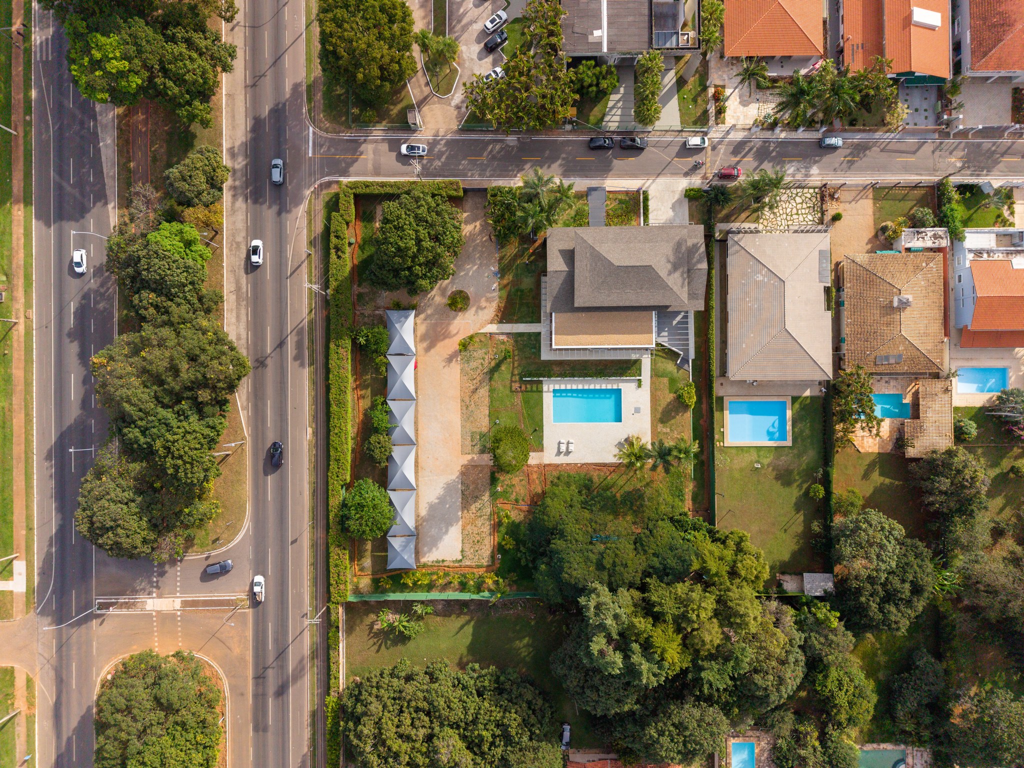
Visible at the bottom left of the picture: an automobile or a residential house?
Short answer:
automobile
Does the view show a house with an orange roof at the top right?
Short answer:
Yes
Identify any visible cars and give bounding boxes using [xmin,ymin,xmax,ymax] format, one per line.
[270,441,284,465]
[251,242,264,264]
[481,66,504,86]
[590,136,614,149]
[205,559,232,575]
[483,11,509,32]
[483,31,508,52]
[402,143,427,156]
[560,724,572,749]
[271,160,284,184]
[719,166,741,178]
[820,136,842,149]
[685,136,707,149]
[73,249,87,272]
[621,136,647,150]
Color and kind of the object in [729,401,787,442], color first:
blue swimming pool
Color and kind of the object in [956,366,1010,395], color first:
blue swimming pool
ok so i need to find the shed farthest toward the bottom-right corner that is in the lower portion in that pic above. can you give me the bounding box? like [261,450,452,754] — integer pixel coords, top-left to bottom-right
[800,572,834,596]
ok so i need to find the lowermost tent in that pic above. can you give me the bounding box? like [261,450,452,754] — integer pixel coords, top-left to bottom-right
[386,535,418,569]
